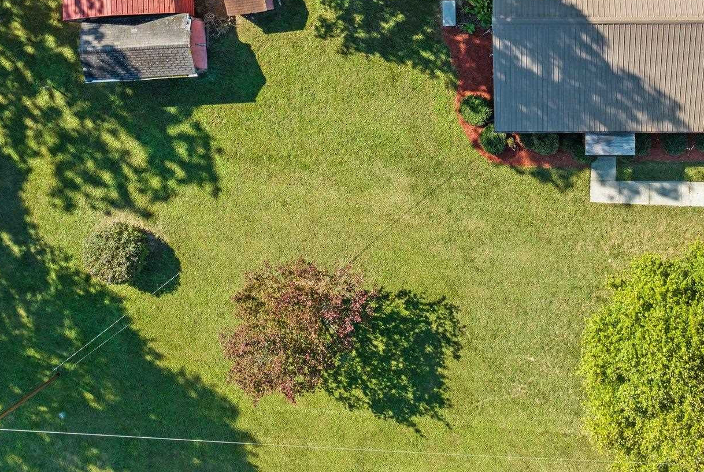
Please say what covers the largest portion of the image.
grass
